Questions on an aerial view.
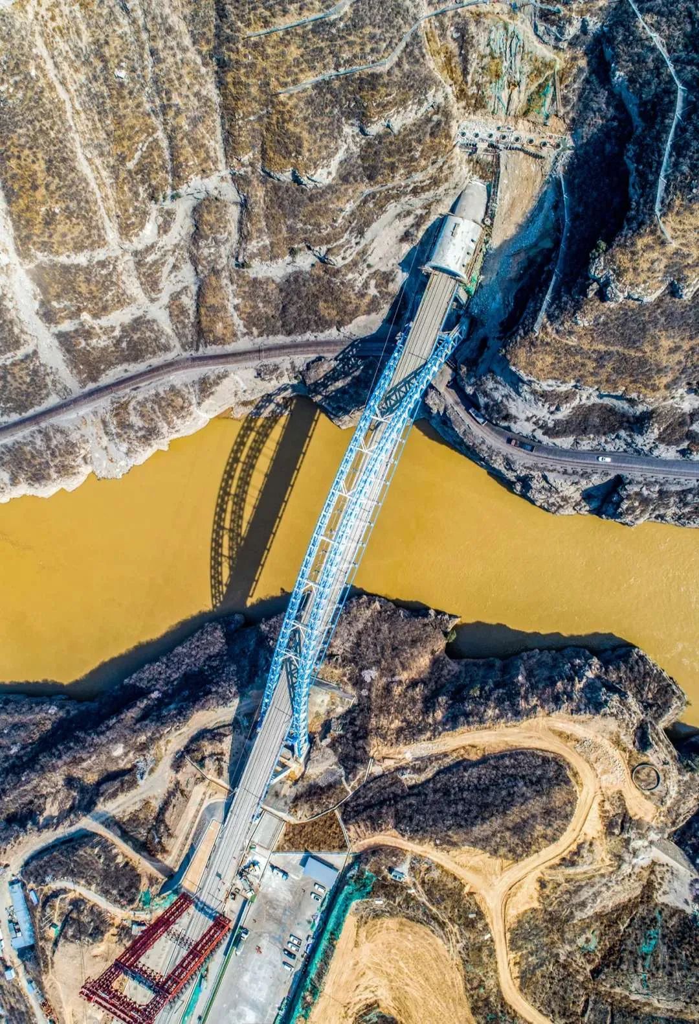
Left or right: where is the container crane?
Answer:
left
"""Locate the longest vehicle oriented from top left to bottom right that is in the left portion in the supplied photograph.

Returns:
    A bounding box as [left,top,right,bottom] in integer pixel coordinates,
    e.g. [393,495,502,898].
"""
[237,875,253,899]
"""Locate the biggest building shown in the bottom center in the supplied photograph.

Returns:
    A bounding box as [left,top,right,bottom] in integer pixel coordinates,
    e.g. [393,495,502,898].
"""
[304,854,341,888]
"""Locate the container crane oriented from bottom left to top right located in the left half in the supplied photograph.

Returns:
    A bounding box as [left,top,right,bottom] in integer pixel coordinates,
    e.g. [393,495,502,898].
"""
[82,890,230,1024]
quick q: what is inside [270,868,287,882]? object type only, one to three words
vehicle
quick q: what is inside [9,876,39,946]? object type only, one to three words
building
